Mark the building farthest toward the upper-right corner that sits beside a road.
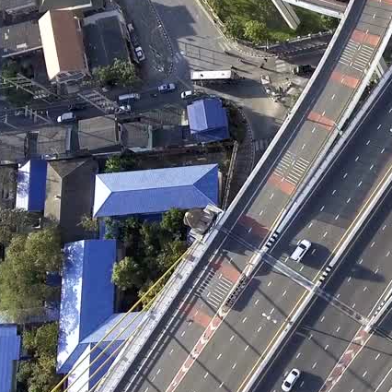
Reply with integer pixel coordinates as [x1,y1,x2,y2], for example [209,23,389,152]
[187,97,239,143]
